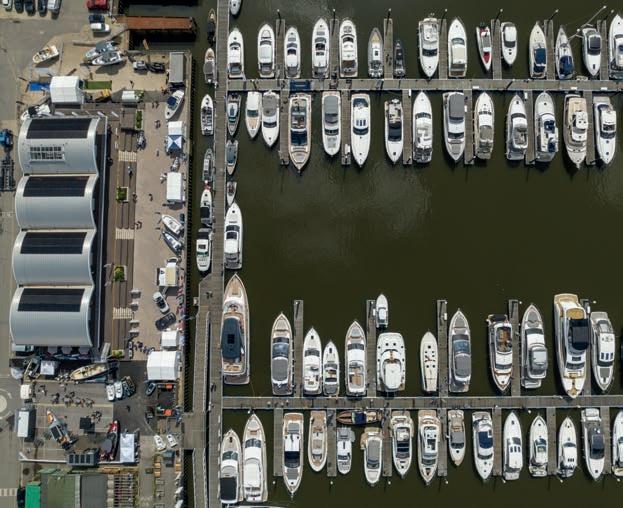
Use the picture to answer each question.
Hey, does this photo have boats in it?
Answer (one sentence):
Yes, there is a boat in the image.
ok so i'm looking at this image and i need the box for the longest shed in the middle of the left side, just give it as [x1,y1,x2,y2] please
[8,116,113,347]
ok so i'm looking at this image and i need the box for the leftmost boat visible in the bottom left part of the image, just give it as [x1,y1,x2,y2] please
[23,357,41,382]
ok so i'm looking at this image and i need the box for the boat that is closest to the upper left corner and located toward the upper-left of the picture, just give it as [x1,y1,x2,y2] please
[32,45,61,64]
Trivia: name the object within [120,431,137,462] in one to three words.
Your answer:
tent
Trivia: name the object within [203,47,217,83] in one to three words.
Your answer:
boat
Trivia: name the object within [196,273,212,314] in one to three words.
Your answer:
pier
